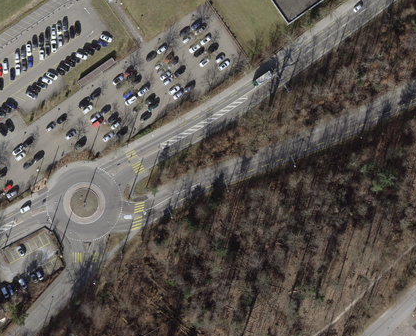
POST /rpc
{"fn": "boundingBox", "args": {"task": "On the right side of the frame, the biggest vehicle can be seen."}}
[251,70,274,88]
